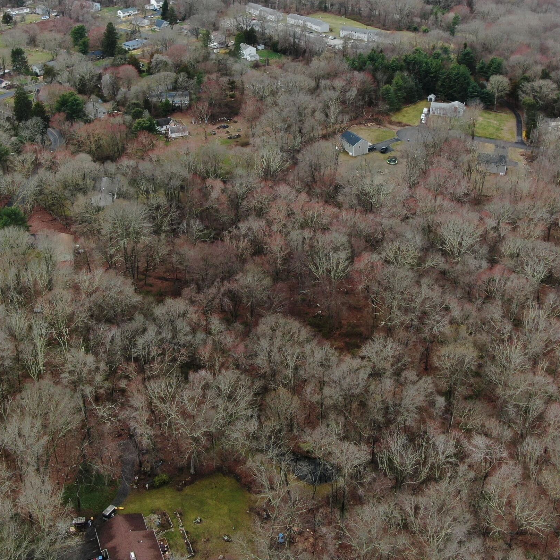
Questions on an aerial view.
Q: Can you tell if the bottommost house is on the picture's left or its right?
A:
left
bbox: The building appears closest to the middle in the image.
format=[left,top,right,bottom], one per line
[327,124,370,156]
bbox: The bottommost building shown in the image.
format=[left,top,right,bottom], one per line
[95,510,180,560]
